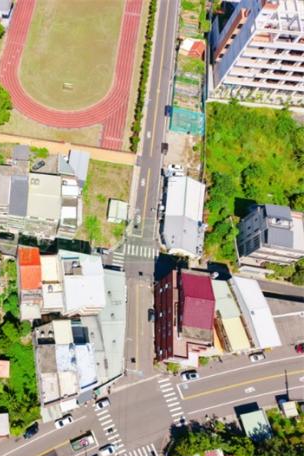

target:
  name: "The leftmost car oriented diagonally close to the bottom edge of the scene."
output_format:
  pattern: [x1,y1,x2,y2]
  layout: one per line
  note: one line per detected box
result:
[20,422,40,439]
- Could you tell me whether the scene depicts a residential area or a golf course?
residential area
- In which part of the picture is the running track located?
top left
